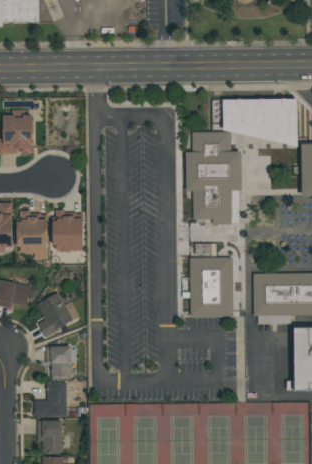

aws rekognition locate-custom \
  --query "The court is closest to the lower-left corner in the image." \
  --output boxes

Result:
[90,404,126,464]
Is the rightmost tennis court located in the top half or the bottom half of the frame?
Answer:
bottom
